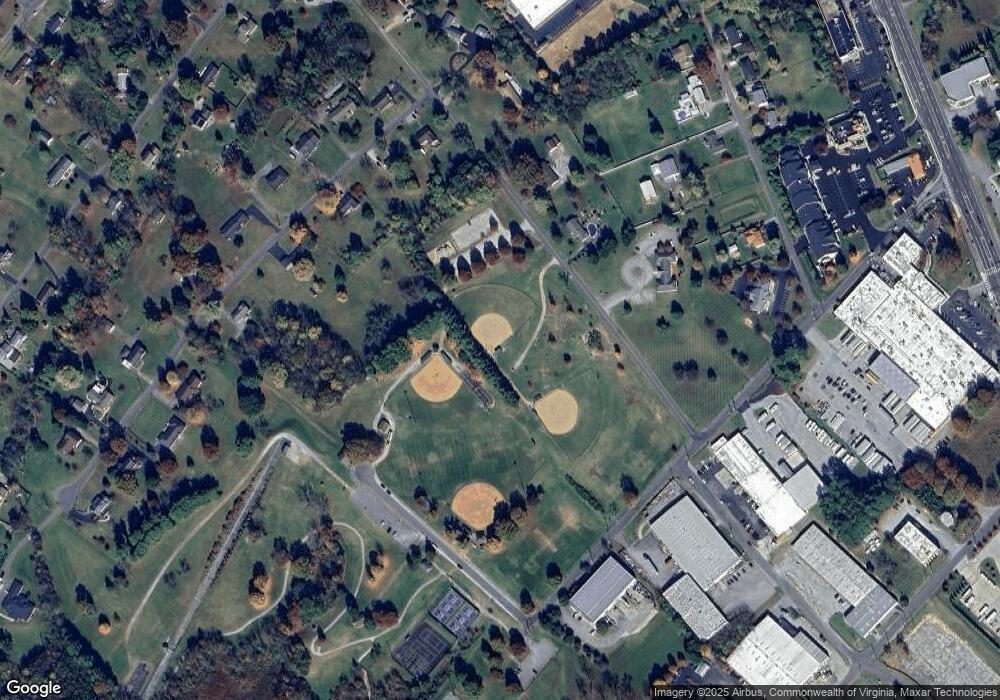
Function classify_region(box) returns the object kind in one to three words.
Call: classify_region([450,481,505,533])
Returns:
baseball field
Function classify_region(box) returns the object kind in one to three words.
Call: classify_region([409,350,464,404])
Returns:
baseball field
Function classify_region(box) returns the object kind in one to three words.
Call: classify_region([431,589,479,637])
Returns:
tennis court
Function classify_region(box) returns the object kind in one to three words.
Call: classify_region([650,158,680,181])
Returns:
house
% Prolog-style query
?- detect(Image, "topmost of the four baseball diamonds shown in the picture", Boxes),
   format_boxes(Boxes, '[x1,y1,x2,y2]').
[453,285,537,355]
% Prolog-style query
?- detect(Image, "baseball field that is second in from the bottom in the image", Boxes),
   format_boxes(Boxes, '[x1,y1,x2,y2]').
[530,378,606,460]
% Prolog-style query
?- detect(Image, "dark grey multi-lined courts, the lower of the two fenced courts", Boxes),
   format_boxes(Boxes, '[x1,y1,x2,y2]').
[395,622,449,677]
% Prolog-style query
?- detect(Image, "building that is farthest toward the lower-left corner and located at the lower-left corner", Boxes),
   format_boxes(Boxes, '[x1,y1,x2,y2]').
[5,586,34,621]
